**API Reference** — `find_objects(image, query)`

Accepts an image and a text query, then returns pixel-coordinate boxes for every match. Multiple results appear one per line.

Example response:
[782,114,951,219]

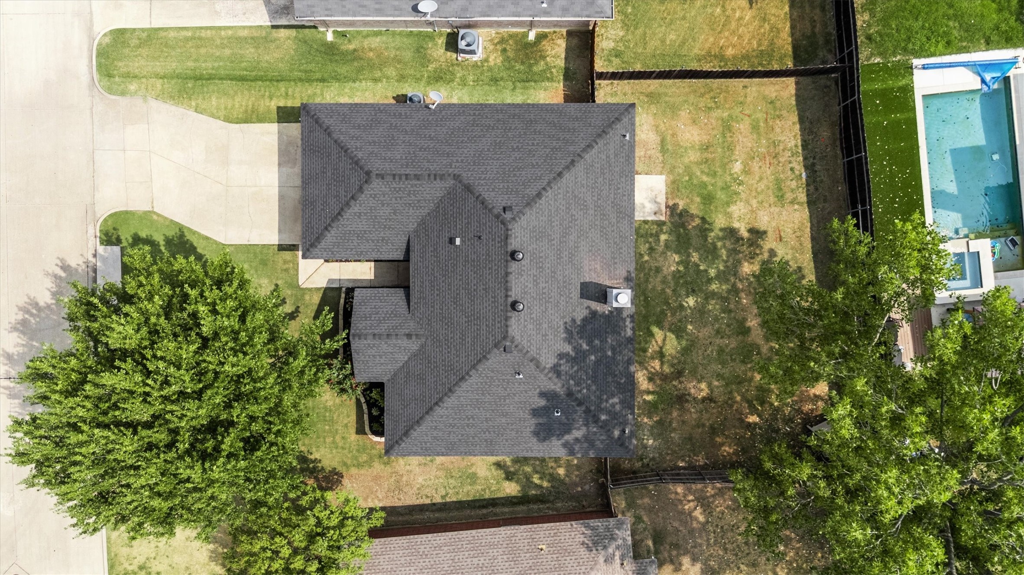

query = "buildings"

[294,0,615,33]
[340,511,657,575]
[300,102,636,458]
